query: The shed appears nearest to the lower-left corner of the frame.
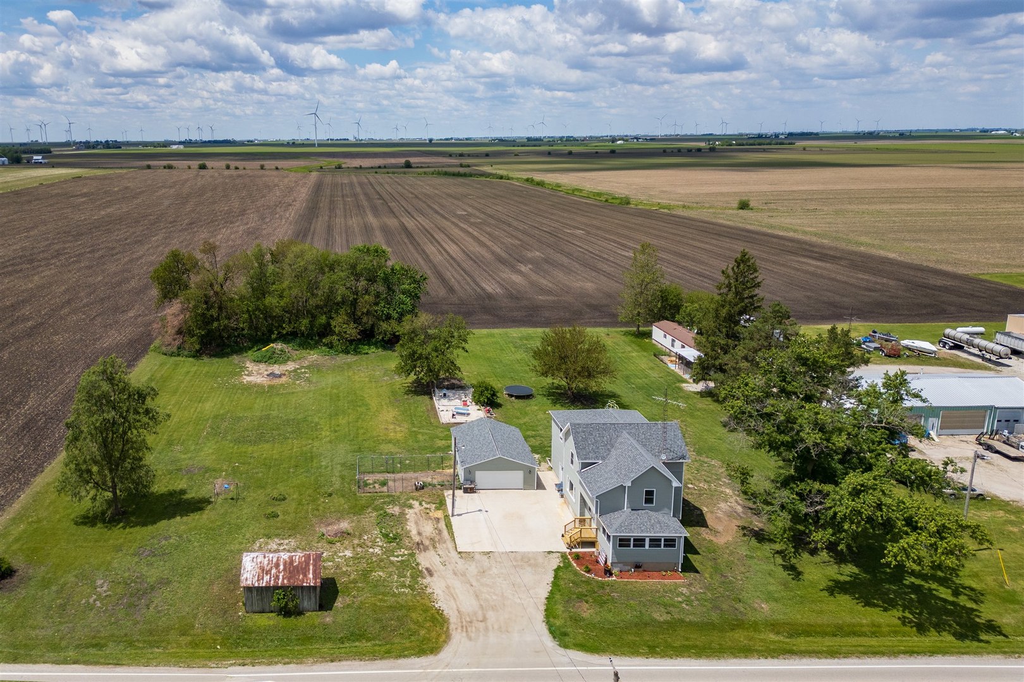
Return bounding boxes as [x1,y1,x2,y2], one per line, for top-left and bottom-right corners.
[239,559,326,613]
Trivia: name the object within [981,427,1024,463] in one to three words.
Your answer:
trailer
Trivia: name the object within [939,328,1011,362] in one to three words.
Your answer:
trailer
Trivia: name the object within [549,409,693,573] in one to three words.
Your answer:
house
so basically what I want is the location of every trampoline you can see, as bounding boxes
[504,382,534,399]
